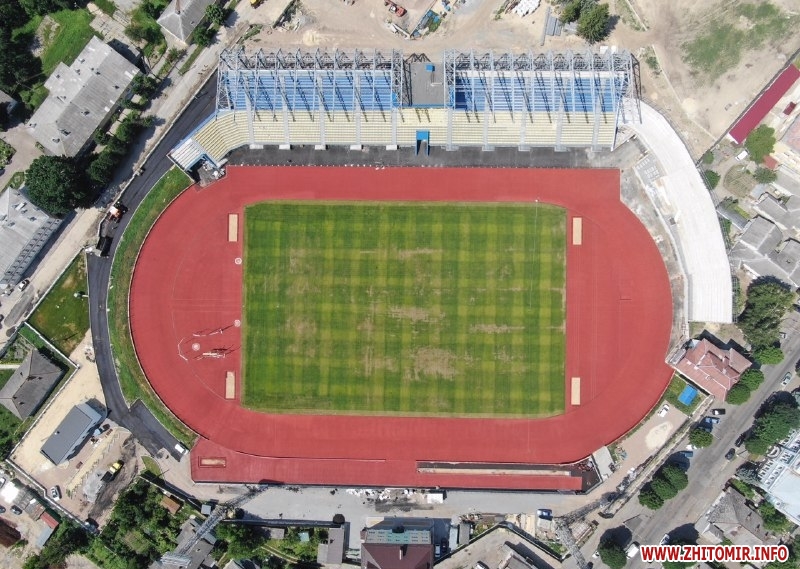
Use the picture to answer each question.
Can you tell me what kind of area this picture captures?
sports ground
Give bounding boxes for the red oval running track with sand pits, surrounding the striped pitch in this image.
[129,166,675,492]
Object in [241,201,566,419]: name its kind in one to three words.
soccer field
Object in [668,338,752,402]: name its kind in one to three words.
house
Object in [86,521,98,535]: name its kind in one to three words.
vehicle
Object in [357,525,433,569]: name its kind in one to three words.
building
